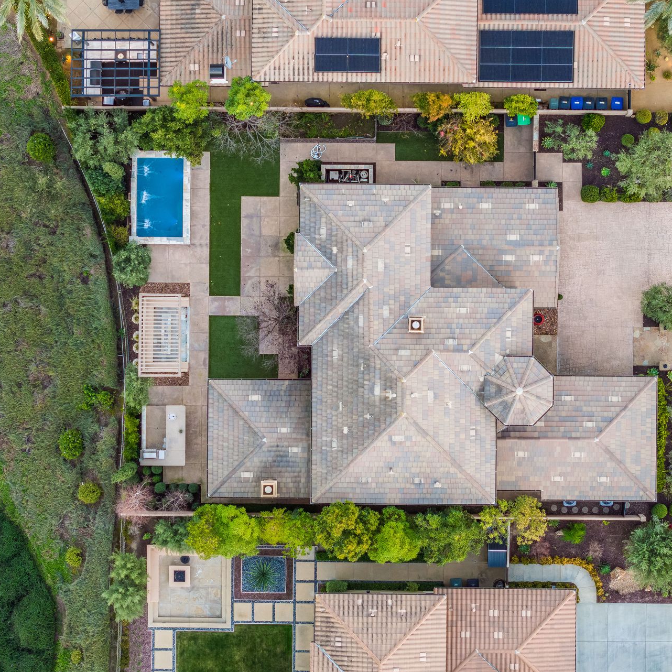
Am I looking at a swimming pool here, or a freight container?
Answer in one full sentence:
The one in the frame is a swimming pool.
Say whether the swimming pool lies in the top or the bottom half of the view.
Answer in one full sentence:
You can find the swimming pool in the top half.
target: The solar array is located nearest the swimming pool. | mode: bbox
[315,38,381,72]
